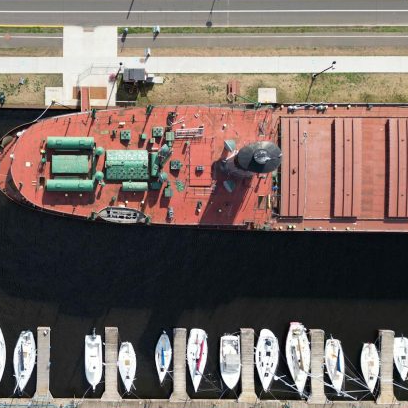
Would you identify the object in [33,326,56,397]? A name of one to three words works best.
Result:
pier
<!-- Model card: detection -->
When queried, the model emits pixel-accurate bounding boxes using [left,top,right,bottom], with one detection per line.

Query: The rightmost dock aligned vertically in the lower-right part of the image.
[374,328,399,397]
